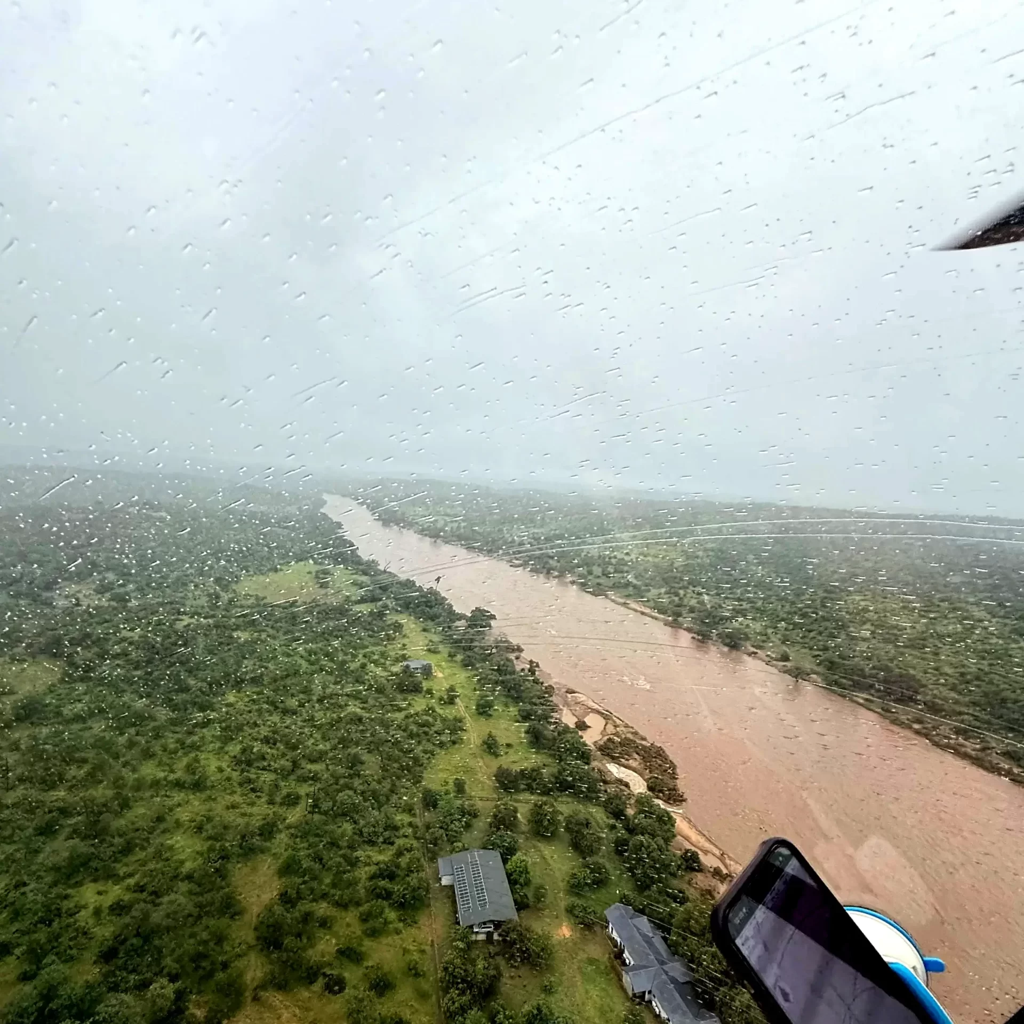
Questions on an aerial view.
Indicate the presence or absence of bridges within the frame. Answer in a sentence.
No, I find no bridge anywhere in the image.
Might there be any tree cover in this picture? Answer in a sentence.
Yes, tree cover shows up in the scene.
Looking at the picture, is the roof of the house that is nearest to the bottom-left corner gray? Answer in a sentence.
Yes, the roof of the house that is nearest to the bottom-left corner is gray.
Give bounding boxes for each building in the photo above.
[404,662,432,673]
[432,845,518,935]
[597,902,729,1024]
